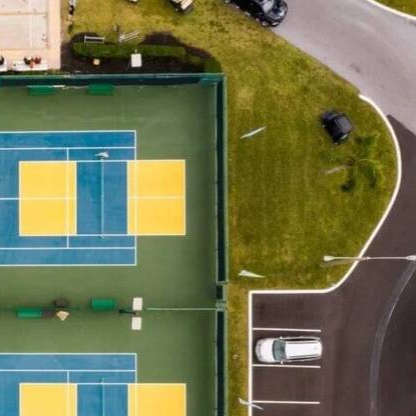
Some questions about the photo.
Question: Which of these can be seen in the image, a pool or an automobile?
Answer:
automobile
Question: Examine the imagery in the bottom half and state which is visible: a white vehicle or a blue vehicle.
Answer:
white vehicle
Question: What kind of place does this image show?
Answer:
sports ground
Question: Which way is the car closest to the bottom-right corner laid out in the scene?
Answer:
from side to side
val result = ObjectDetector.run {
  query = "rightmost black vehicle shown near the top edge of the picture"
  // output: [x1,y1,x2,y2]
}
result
[221,0,283,26]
